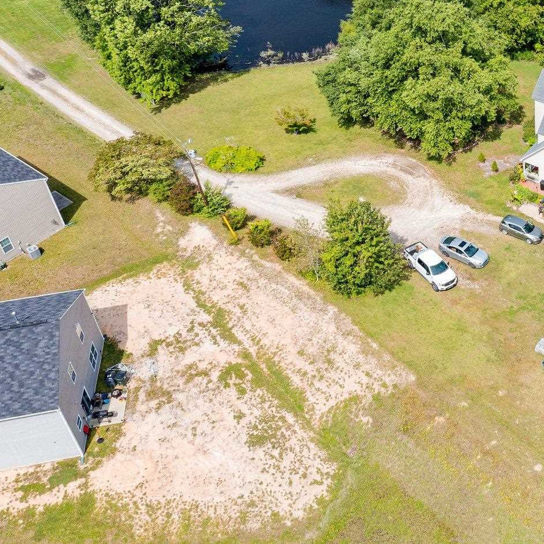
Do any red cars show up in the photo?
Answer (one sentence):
No, no red car can be seen from above.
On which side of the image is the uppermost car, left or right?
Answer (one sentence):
The uppermost car appears in the right half of the scene.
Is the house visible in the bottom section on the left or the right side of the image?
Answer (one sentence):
The house visible in the bottom section sits on the left side.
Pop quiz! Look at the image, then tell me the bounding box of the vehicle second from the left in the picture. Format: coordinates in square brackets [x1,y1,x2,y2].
[436,231,491,267]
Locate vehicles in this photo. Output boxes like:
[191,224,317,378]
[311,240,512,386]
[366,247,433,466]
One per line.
[405,237,461,291]
[497,209,544,243]
[436,231,491,267]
